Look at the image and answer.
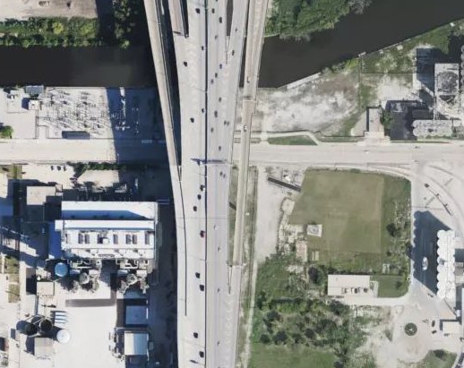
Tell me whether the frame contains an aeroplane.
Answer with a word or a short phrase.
No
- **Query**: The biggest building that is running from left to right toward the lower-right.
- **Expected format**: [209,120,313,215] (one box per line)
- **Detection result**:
[329,275,377,297]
